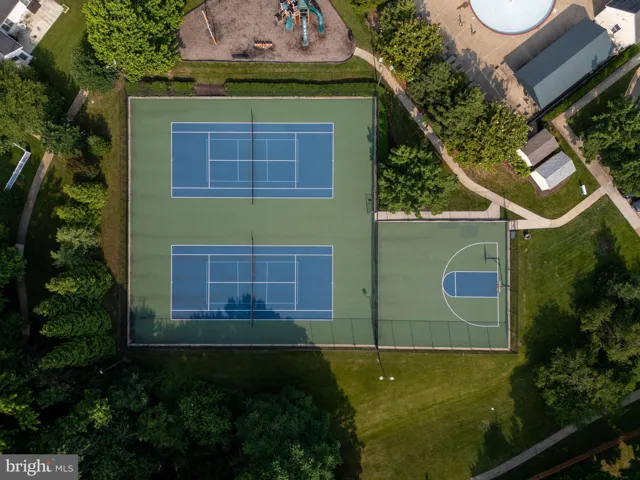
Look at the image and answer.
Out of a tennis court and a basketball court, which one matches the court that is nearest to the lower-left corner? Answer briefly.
tennis court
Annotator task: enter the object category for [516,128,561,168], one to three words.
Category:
shed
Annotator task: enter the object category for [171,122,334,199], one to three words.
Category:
tennis court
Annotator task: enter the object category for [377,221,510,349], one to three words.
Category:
basketball court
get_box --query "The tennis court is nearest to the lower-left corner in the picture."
[171,244,334,321]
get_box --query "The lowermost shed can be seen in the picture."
[530,154,574,191]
